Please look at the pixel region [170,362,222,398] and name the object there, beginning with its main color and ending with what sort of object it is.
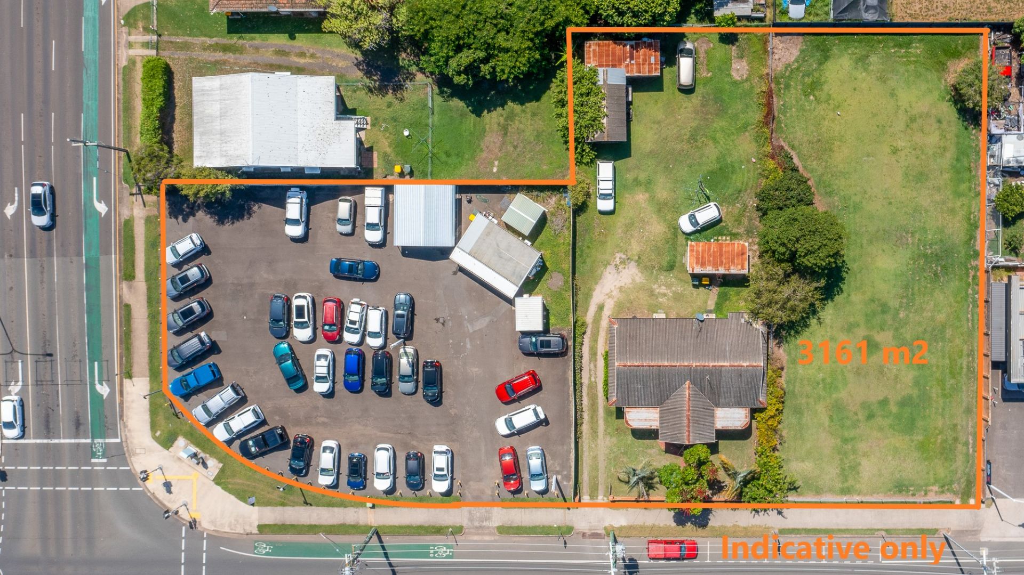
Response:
blue vehicle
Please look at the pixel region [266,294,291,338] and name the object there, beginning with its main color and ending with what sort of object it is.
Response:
blue car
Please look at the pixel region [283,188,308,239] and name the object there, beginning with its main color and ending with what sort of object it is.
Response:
white vehicle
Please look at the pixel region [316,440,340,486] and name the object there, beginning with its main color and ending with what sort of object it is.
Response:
white car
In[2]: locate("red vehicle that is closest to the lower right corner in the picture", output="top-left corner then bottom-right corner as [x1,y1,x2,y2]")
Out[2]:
[648,538,697,562]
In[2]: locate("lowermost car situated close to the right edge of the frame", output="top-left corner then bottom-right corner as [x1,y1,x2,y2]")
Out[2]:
[1002,370,1024,393]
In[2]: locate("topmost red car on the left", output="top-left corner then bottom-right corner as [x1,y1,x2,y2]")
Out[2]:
[319,298,342,342]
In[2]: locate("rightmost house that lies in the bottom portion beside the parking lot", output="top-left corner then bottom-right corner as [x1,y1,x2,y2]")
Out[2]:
[607,312,768,451]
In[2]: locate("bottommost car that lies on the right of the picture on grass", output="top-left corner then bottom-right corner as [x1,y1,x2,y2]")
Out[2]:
[678,200,722,233]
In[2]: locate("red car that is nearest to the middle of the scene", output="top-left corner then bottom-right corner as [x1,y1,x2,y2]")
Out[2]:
[496,370,541,402]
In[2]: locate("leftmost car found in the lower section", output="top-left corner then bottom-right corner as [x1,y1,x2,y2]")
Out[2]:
[1,395,25,438]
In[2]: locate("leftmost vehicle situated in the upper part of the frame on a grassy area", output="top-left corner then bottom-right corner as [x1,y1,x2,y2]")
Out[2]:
[594,161,618,213]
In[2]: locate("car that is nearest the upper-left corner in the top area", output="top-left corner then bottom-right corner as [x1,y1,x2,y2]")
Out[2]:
[30,182,55,229]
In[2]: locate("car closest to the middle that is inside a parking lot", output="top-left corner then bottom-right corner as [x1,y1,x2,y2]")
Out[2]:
[518,332,567,355]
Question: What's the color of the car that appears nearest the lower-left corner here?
white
